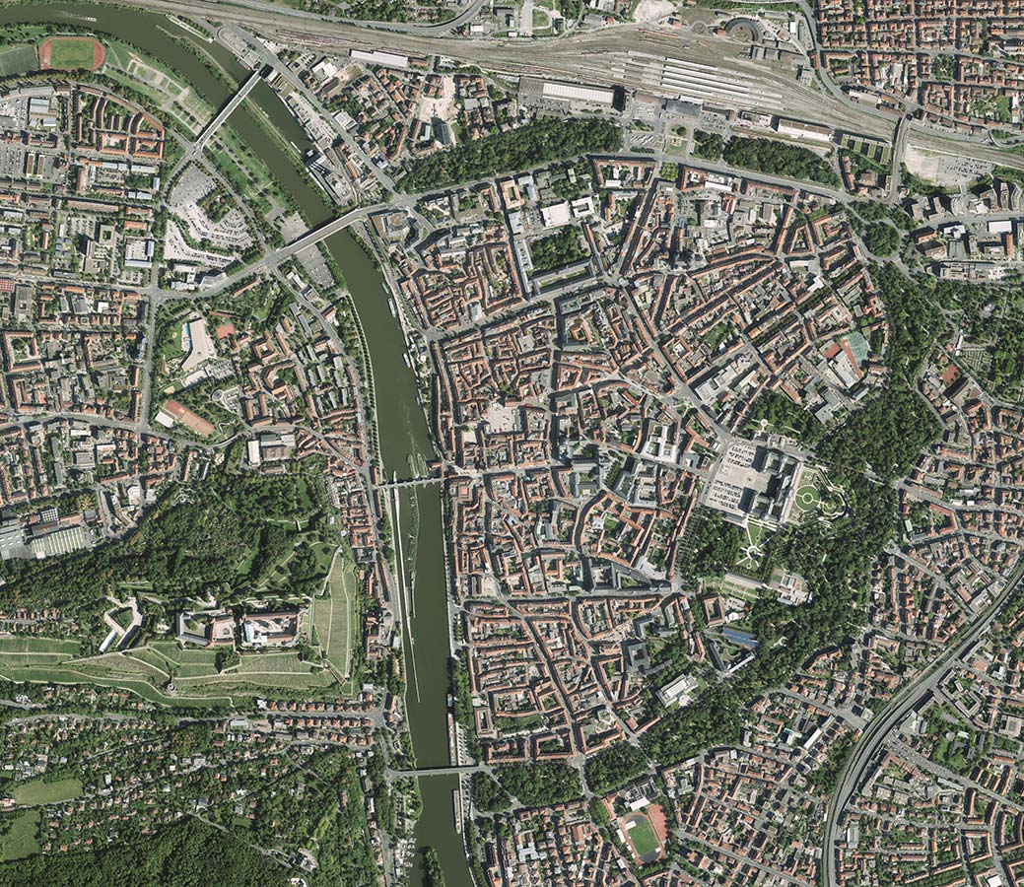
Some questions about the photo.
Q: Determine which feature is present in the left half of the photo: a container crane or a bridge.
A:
bridge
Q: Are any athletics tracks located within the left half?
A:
Yes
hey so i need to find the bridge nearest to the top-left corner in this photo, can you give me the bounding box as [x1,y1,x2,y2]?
[192,70,263,151]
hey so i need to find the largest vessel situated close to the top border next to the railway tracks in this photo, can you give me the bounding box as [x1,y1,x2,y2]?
[167,14,199,36]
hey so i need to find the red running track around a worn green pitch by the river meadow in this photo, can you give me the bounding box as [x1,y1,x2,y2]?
[39,37,106,71]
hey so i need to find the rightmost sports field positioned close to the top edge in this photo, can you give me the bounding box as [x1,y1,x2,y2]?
[51,40,94,67]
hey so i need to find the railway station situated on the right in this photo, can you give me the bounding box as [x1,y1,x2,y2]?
[611,51,784,116]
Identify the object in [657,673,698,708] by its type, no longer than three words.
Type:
building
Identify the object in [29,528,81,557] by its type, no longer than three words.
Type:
building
